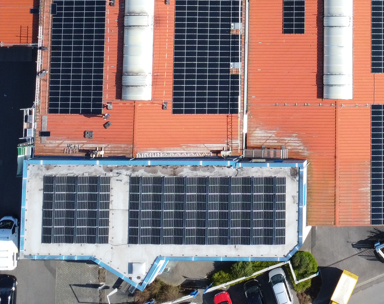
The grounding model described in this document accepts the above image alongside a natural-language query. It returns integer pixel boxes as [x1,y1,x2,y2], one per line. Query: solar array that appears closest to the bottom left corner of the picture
[42,175,112,244]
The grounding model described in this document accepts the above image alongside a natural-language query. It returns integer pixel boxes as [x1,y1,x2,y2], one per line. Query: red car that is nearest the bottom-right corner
[216,289,233,304]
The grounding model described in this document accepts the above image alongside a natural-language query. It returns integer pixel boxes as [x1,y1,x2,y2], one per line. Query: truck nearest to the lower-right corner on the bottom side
[331,269,361,304]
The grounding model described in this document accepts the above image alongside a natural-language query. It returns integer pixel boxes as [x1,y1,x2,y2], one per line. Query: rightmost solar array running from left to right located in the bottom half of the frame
[128,175,285,244]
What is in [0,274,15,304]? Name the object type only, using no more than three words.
car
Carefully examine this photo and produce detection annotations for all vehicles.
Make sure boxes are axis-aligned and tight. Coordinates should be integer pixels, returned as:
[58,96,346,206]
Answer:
[331,269,361,304]
[0,274,15,304]
[271,266,294,304]
[0,215,20,274]
[247,278,267,304]
[216,289,233,304]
